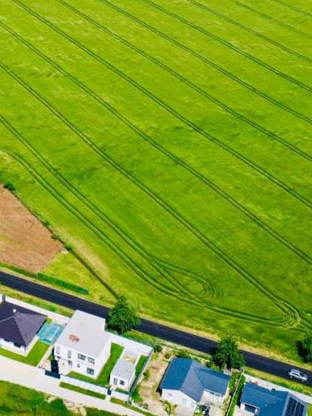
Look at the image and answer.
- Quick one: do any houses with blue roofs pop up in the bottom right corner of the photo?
Yes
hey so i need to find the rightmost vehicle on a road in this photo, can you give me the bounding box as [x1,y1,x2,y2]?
[287,367,307,380]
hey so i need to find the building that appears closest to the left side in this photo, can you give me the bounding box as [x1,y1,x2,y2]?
[0,300,45,356]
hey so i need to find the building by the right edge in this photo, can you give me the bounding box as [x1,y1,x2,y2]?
[240,382,304,416]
